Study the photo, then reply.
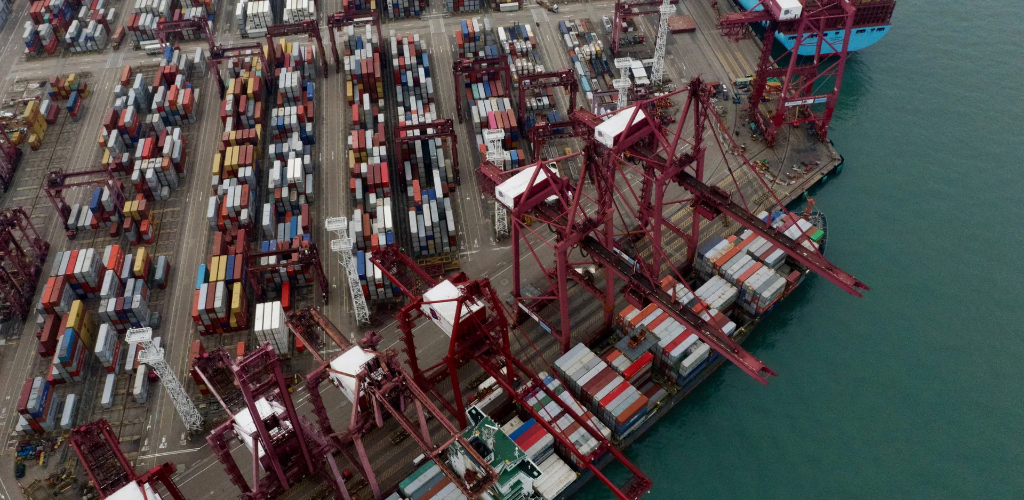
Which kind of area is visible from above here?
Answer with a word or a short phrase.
port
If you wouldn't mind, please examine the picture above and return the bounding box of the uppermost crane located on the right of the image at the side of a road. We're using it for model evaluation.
[610,0,664,58]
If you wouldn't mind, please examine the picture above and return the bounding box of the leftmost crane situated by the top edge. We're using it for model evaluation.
[147,14,213,69]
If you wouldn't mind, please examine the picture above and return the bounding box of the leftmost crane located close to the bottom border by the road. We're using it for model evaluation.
[66,417,193,500]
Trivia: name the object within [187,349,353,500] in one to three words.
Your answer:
container crane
